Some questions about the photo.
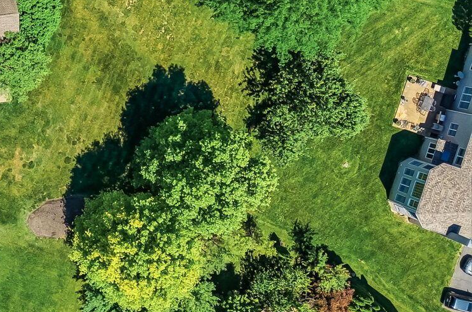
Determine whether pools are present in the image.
No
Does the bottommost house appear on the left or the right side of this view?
right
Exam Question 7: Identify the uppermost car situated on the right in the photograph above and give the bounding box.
[449,248,472,271]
